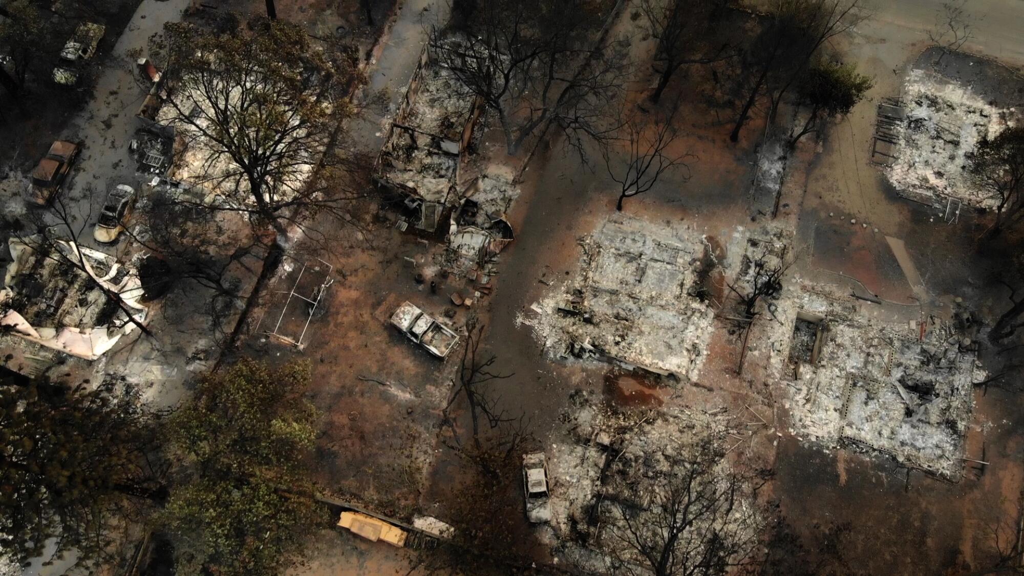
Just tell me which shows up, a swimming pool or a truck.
truck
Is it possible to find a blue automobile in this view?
No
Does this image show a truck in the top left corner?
Yes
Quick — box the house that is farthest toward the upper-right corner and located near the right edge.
[868,62,1024,207]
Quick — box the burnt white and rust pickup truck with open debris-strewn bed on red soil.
[392,304,459,358]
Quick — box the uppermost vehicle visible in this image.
[67,23,107,62]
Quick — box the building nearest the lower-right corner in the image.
[756,270,997,493]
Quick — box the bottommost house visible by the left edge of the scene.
[0,223,148,361]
